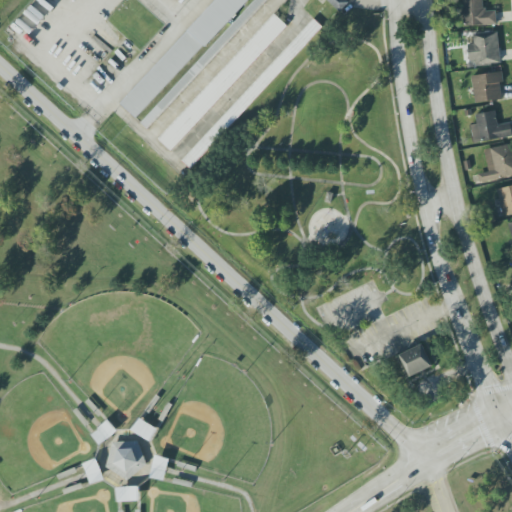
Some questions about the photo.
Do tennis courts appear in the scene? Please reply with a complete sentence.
No, the scene contains no tennis court.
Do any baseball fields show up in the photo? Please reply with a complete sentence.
Yes, there is a baseball field in the image.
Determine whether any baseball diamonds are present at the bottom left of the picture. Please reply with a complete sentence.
Yes, looking at the bottom left of the picture, one can make out a baseball diamond.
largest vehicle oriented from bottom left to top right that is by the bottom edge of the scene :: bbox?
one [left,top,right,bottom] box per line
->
[360,496,380,510]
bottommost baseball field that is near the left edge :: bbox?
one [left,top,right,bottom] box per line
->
[4,480,116,512]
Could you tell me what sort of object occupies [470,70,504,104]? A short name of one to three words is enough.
house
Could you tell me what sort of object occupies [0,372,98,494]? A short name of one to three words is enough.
baseball field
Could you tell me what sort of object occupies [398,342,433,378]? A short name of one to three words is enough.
building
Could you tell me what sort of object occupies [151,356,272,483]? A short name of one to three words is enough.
baseball field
